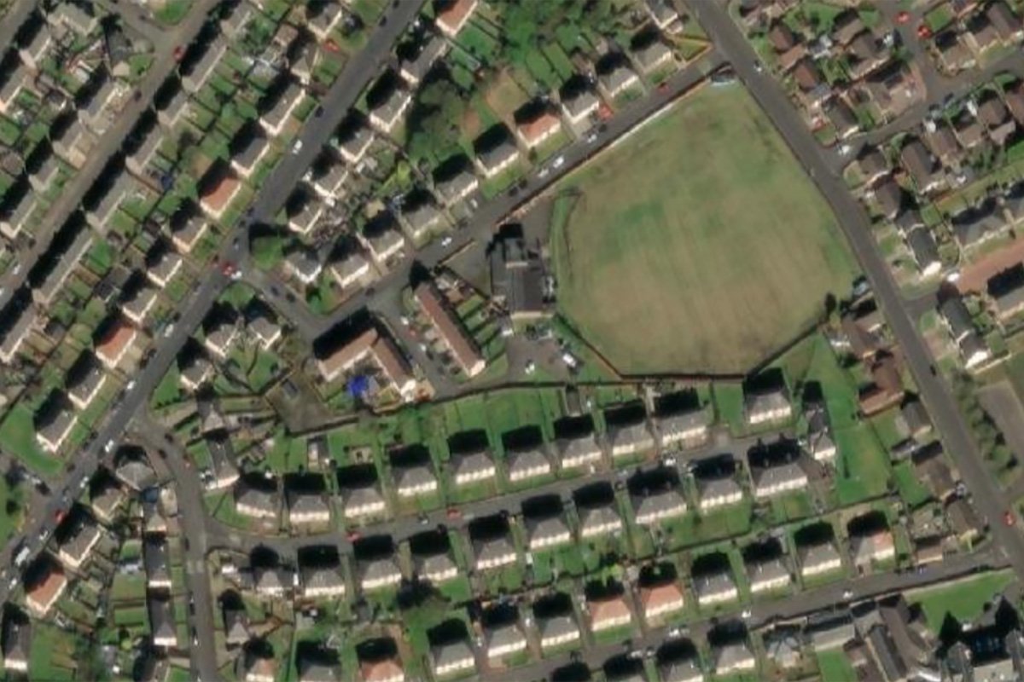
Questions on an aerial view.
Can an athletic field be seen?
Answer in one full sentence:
Yes, an athletic field is visible in the scene.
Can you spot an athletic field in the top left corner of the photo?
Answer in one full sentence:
No, in the top left corner of the photo there is no athletic field.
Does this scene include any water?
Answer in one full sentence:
No, there is no water in the image.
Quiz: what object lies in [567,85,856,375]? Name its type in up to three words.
sports field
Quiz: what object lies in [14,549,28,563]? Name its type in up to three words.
vehicle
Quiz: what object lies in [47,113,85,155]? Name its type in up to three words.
house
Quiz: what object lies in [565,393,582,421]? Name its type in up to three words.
building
